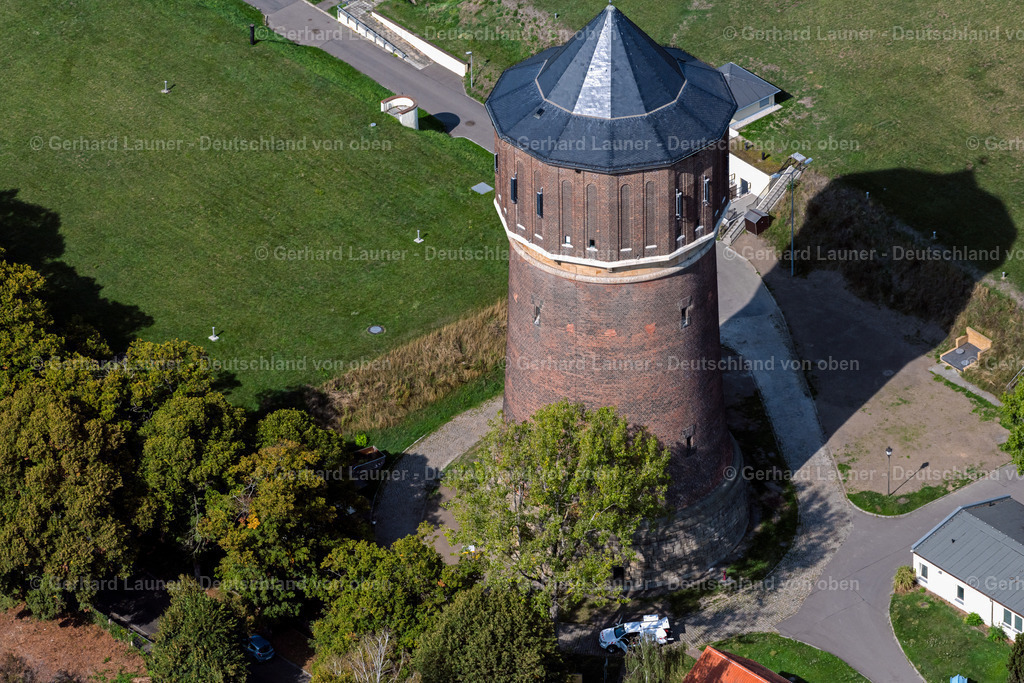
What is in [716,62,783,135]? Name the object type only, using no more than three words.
building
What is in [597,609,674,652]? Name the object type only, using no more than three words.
truck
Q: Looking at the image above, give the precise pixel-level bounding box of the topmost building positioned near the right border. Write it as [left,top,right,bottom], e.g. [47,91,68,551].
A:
[908,487,1024,636]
